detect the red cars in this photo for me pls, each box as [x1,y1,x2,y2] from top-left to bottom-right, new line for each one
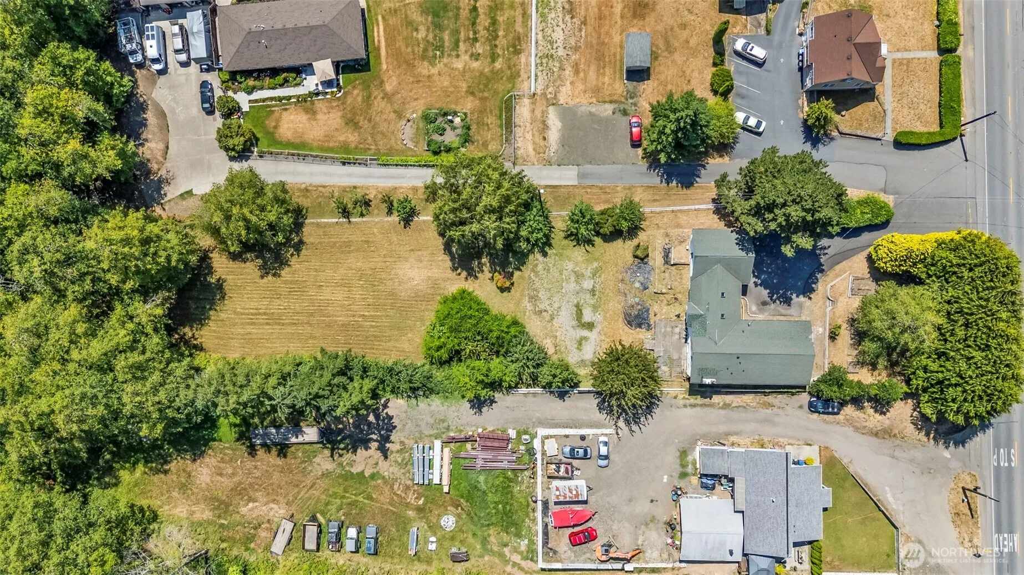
[568,527,599,546]
[629,115,643,147]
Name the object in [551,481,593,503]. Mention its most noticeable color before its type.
white trailer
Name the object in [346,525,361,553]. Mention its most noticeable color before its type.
white car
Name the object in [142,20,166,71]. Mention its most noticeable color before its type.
white vehicle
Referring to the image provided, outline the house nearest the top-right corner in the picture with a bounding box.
[797,10,888,91]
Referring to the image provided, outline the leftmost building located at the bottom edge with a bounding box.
[677,495,743,561]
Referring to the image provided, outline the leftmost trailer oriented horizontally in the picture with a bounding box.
[250,425,327,447]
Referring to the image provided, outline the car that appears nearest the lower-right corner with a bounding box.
[808,400,842,414]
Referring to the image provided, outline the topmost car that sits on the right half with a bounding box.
[733,39,768,63]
